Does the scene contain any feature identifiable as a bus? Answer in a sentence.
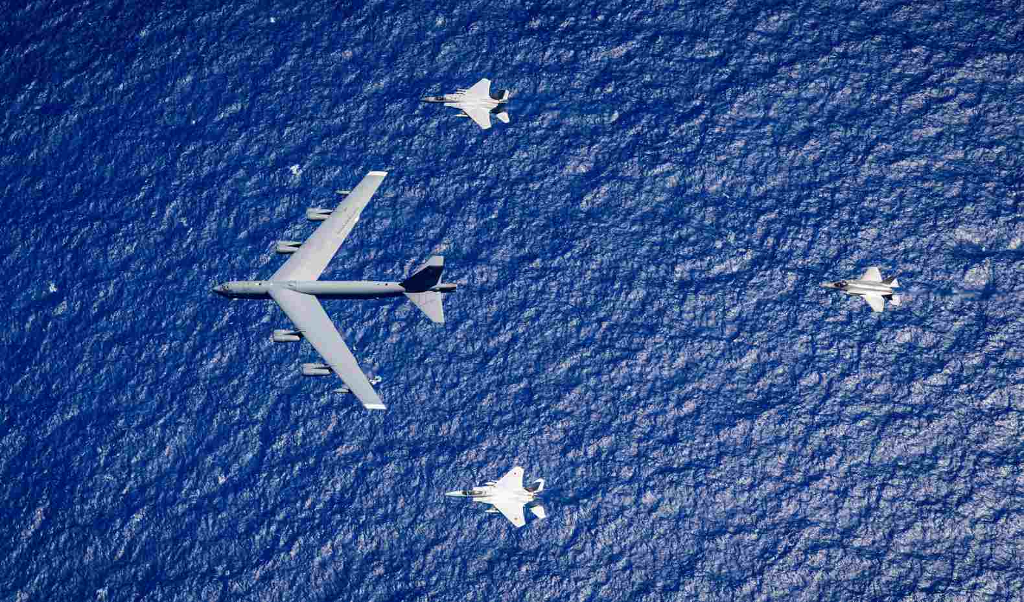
No, the photo shows no bus.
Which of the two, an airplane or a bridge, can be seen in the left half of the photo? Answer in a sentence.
The feature located in the left half of the photo is an airplane.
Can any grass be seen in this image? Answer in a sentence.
No, there's no grass in this view.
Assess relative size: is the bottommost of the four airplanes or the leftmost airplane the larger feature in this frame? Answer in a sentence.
The leftmost airplane covers a greater area than the bottommost of the four airplanes.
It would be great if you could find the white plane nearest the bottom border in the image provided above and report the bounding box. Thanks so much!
[447,467,547,526]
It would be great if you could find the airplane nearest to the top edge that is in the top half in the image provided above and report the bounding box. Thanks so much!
[418,79,510,129]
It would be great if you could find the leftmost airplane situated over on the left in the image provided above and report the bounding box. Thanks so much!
[212,171,456,409]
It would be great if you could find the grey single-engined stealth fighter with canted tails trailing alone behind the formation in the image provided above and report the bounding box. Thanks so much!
[819,267,901,312]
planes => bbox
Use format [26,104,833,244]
[447,467,547,526]
[418,79,510,129]
[819,267,901,312]
[212,171,456,409]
